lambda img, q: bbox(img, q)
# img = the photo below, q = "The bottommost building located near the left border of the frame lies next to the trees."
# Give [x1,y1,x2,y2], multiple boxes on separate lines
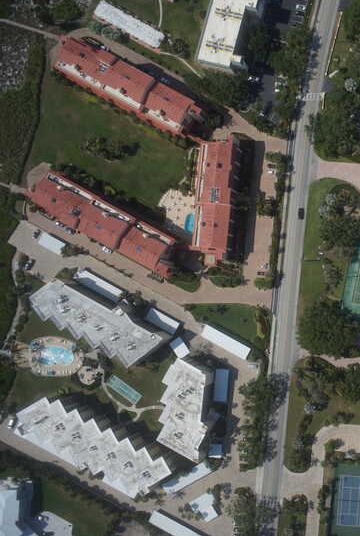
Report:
[0,478,36,536]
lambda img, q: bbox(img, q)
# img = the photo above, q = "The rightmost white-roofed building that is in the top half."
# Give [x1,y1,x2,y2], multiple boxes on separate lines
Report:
[198,0,267,77]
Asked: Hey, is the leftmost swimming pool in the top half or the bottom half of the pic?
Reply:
bottom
